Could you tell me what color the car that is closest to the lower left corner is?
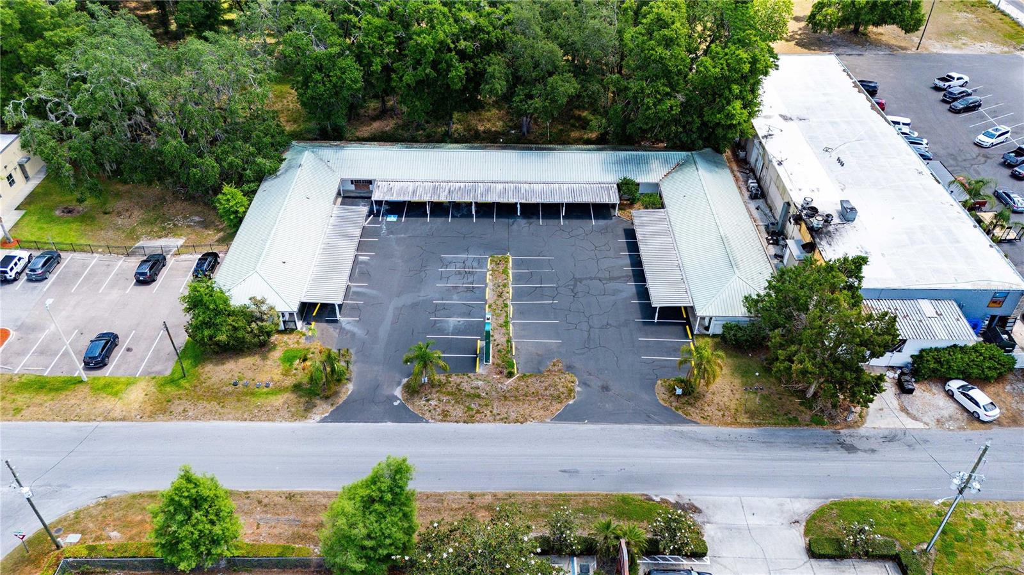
blue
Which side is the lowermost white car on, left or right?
right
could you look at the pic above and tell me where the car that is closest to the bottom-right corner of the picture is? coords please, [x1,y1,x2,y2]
[938,379,1000,420]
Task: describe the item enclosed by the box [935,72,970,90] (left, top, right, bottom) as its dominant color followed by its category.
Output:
white vehicle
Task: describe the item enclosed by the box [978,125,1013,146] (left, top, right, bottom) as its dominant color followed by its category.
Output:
white car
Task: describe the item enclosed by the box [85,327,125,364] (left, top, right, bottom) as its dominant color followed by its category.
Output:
blue car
